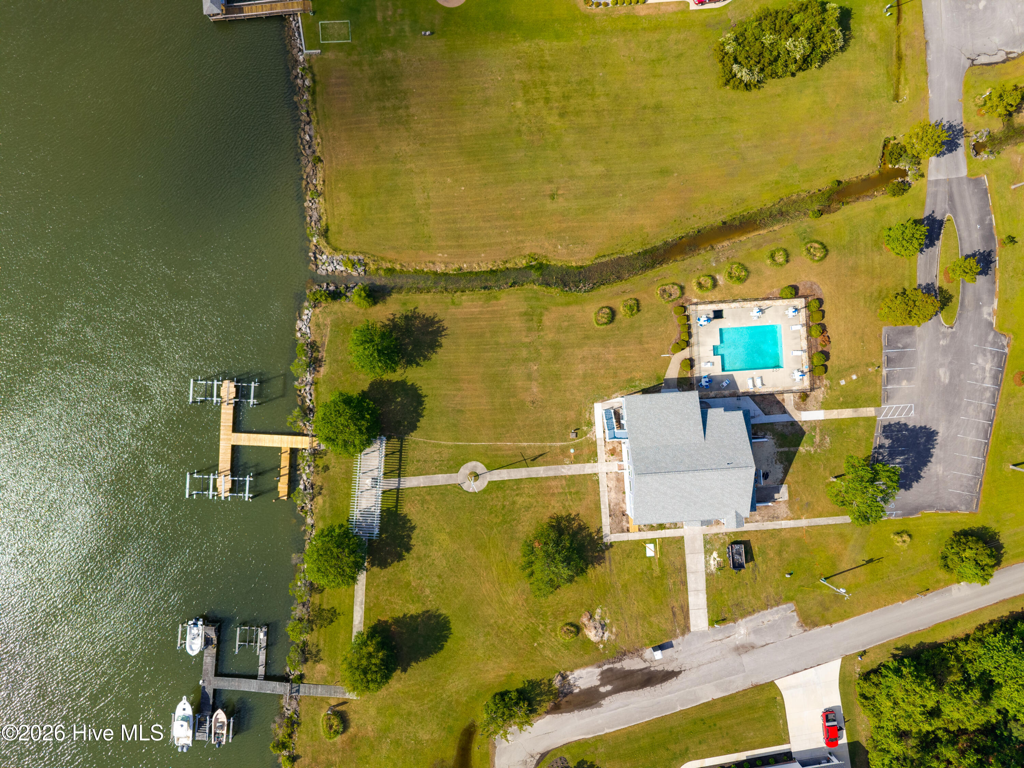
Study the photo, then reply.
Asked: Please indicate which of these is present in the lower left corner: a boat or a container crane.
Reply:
boat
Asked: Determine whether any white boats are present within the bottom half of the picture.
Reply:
Yes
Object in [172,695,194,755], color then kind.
white boat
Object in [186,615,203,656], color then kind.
white boat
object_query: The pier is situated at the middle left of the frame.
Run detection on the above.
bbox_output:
[217,380,327,502]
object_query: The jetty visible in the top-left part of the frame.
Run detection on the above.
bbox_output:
[208,0,312,25]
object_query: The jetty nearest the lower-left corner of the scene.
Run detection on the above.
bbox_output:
[197,622,359,740]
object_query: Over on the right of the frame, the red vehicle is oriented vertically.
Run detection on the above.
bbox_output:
[819,709,838,747]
